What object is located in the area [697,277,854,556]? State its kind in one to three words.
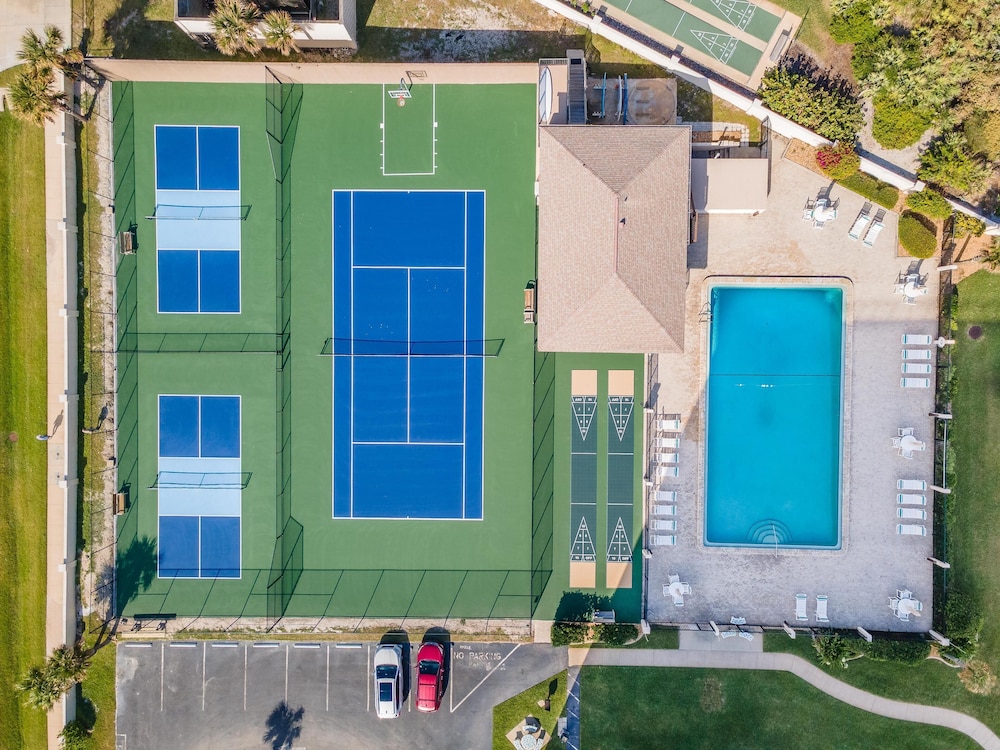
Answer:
swimming pool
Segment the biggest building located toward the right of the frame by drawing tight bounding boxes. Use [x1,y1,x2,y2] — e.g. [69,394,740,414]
[536,123,689,354]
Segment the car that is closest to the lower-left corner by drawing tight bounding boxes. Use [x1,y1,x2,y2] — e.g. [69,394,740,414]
[371,644,405,718]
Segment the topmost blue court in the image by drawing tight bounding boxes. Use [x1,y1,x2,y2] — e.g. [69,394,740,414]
[154,125,241,313]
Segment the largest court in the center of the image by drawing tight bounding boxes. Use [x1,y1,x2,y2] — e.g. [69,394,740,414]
[332,189,485,521]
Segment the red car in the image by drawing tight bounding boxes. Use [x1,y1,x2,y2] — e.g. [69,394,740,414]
[414,641,447,712]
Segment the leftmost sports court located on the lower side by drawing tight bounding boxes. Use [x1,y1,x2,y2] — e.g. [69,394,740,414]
[157,395,241,579]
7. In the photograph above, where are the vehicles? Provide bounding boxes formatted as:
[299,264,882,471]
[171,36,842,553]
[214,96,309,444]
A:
[414,641,447,712]
[371,644,405,718]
